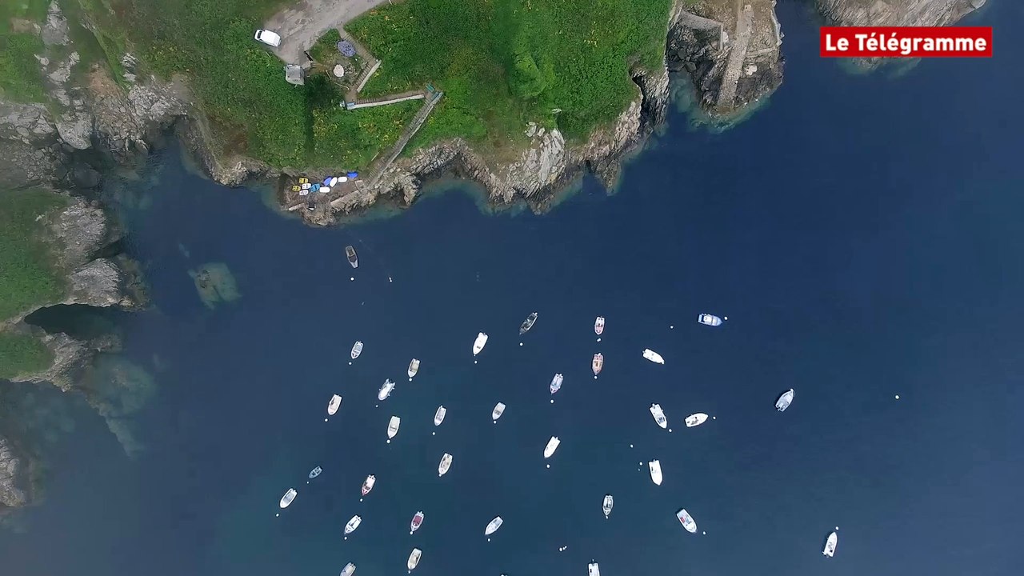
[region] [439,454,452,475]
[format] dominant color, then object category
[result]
white boat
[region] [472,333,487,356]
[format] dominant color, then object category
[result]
white boat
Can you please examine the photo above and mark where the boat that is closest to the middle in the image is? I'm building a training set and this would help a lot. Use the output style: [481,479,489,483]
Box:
[520,313,538,336]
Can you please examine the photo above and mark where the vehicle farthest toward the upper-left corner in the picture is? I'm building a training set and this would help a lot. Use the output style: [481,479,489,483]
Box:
[253,28,281,46]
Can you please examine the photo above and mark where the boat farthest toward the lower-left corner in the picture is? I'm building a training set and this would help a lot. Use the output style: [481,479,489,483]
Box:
[278,489,297,513]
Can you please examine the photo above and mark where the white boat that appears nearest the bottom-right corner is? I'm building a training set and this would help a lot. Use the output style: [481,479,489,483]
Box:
[825,530,839,558]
